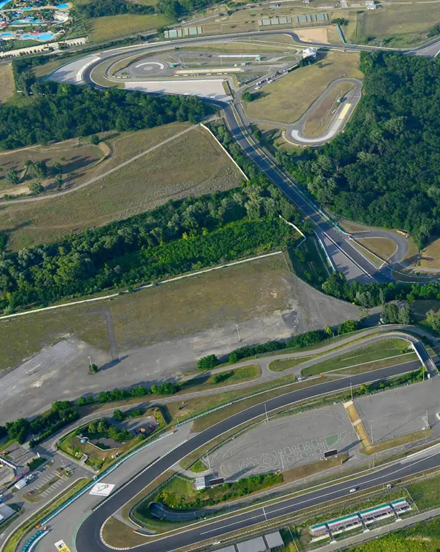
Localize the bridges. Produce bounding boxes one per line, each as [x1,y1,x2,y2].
[402,334,440,376]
